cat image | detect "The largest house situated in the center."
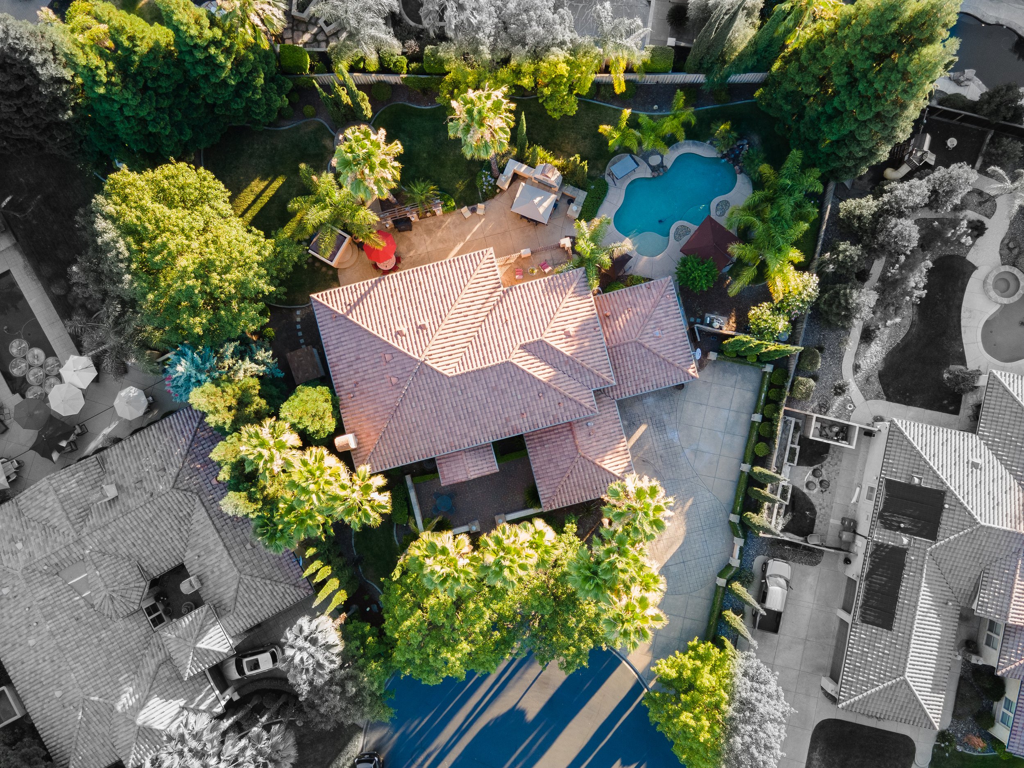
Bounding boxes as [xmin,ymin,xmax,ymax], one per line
[308,246,699,511]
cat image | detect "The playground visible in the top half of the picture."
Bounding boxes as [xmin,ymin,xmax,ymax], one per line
[852,118,987,192]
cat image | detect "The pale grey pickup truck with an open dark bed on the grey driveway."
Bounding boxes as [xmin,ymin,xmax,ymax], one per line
[751,553,793,638]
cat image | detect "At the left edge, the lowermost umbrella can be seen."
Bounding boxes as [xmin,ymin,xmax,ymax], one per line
[0,461,25,491]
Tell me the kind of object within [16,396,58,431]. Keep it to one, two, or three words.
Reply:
umbrella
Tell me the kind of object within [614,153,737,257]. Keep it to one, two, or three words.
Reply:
swimming pool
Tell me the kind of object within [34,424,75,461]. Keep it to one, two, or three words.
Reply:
umbrella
